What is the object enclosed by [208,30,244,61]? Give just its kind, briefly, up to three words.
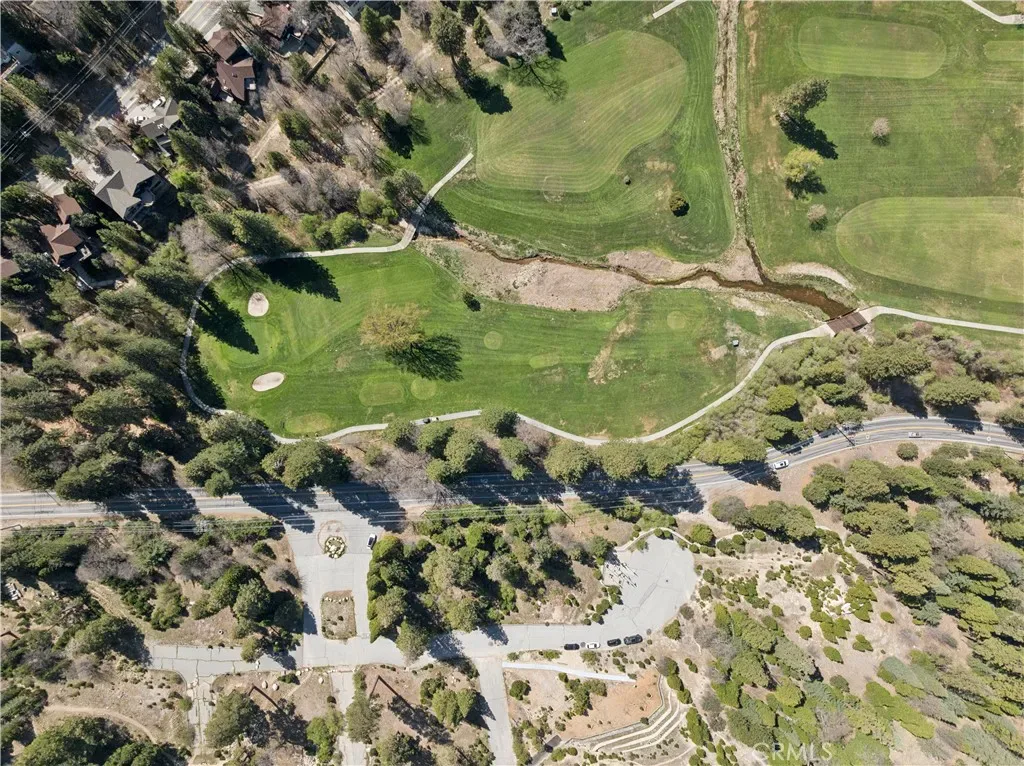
house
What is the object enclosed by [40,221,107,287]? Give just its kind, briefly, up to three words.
house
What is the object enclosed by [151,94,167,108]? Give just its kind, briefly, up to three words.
car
